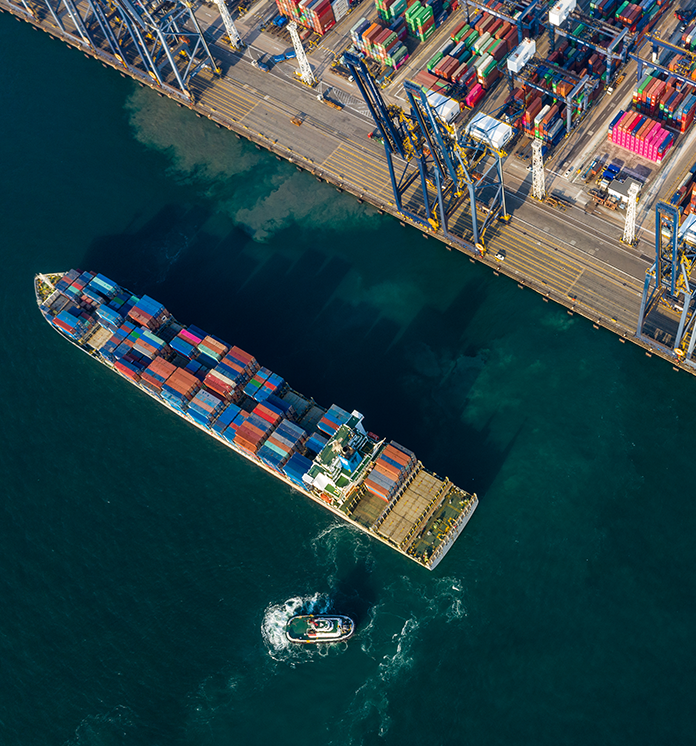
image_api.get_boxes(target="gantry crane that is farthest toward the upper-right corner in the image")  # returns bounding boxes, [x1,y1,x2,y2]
[627,31,696,96]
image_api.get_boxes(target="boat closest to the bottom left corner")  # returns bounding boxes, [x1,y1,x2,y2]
[287,615,357,643]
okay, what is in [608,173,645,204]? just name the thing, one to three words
shed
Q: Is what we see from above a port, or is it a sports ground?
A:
port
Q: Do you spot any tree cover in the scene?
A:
No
